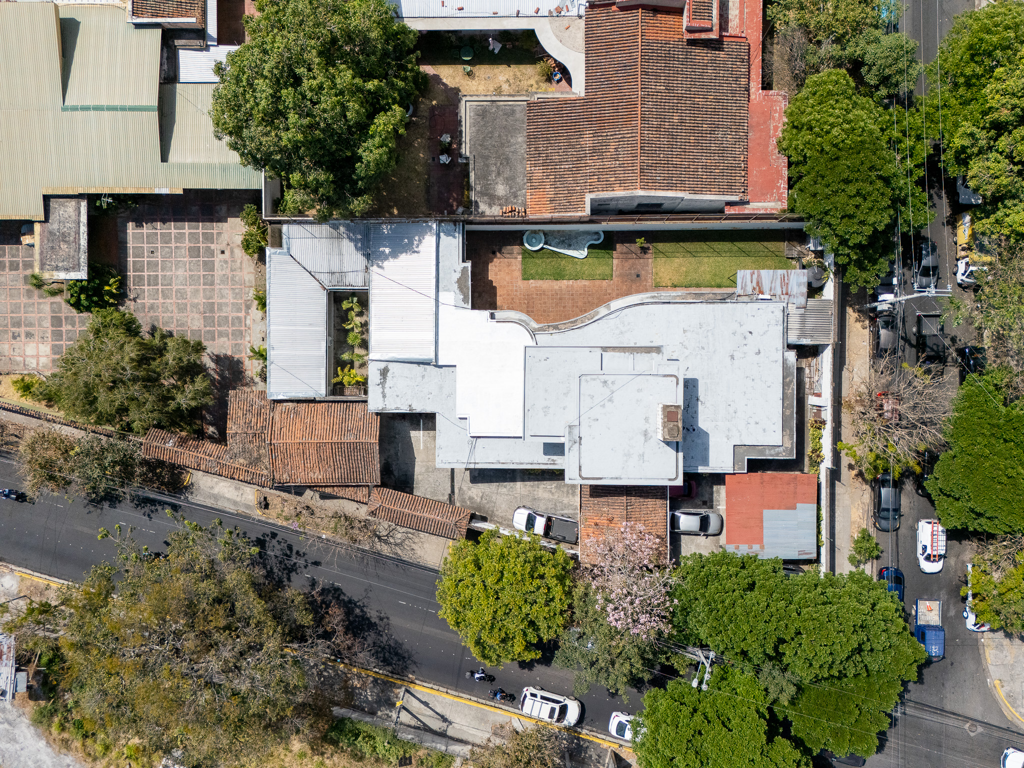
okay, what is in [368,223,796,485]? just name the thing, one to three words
house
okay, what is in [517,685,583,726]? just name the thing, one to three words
car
